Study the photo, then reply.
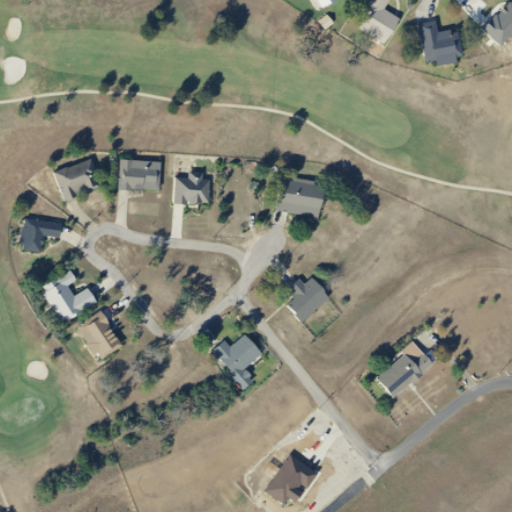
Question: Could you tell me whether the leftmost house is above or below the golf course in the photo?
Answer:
below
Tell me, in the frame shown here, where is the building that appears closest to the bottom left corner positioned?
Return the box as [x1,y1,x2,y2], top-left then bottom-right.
[81,312,120,358]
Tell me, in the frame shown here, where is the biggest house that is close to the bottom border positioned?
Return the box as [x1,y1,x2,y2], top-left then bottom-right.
[264,451,321,510]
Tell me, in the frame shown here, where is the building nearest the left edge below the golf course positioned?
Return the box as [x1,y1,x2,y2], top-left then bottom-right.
[22,218,62,253]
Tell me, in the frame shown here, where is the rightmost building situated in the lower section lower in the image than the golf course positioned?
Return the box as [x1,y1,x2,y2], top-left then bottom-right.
[379,342,433,398]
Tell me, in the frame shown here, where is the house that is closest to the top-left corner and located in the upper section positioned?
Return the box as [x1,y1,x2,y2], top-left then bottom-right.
[54,160,98,202]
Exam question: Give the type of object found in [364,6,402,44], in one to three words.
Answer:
house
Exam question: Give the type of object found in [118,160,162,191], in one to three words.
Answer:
house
